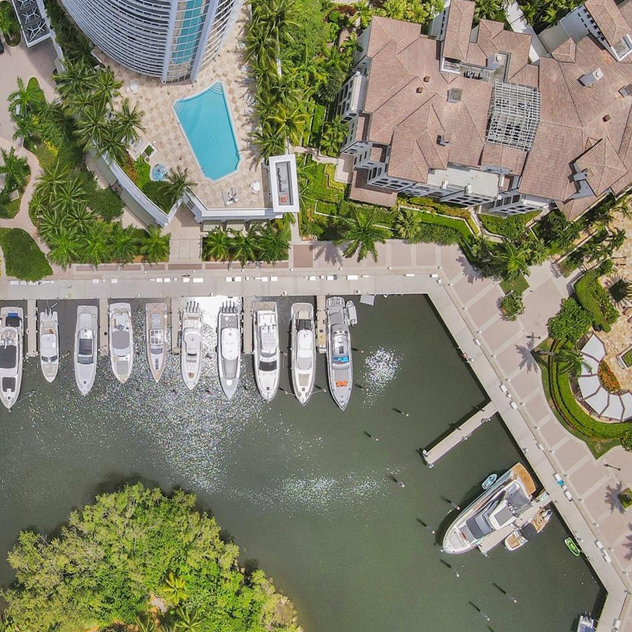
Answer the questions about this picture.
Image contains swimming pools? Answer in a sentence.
Yes, you can see a swimming pool in this photo.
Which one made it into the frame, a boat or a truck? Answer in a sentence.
I can see a boat in this picture.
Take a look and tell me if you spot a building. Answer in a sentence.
Yes, there is a building in the image.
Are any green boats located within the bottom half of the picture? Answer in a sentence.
Yes, a green boat is visible within the bottom half of the picture.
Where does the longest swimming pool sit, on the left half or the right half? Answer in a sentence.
The longest swimming pool is on the left side of the image.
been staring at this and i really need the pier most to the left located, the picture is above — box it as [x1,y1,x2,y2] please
[26,298,39,357]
